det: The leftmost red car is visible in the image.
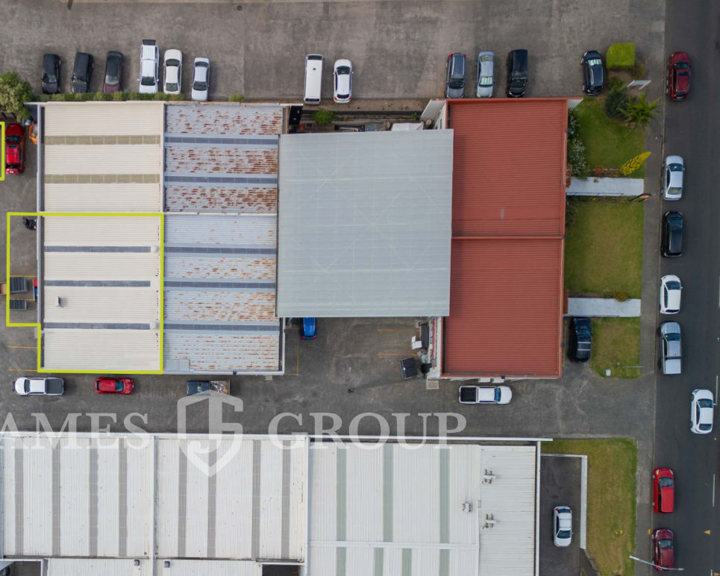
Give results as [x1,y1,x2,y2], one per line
[2,127,26,176]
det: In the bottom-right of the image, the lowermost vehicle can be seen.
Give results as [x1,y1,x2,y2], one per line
[651,528,676,571]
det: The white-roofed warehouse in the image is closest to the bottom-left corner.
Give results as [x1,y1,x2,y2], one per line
[0,433,306,576]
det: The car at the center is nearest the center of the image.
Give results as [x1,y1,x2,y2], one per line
[299,318,317,342]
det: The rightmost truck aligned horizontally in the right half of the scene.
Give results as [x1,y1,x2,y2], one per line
[457,384,511,406]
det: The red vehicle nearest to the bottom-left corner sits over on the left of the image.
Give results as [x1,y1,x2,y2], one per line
[93,378,135,396]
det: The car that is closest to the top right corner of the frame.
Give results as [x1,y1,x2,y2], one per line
[666,52,692,101]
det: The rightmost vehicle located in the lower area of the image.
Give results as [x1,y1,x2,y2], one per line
[690,389,715,435]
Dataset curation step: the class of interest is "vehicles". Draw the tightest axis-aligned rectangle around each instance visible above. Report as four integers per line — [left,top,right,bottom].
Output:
[303,54,326,106]
[651,528,676,571]
[666,52,692,101]
[457,384,511,406]
[662,156,686,202]
[138,35,160,93]
[2,127,26,176]
[40,54,62,93]
[69,50,93,93]
[505,47,530,98]
[690,389,715,435]
[660,212,687,258]
[659,275,684,315]
[445,52,468,99]
[474,51,497,98]
[567,317,593,363]
[658,321,685,375]
[299,318,317,342]
[189,57,211,101]
[186,380,230,399]
[551,506,574,547]
[93,378,135,396]
[14,375,65,398]
[580,51,604,97]
[331,59,355,105]
[651,468,677,513]
[102,50,124,93]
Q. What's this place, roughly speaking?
industrial area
